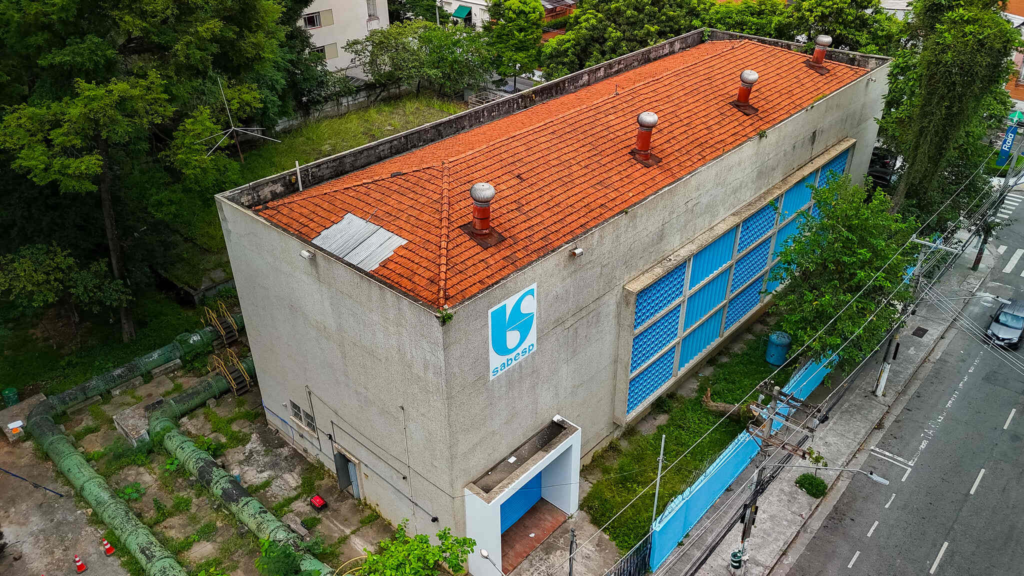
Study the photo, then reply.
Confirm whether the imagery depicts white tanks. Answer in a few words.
No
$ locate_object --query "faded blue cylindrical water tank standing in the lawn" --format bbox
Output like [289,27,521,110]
[766,326,795,368]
